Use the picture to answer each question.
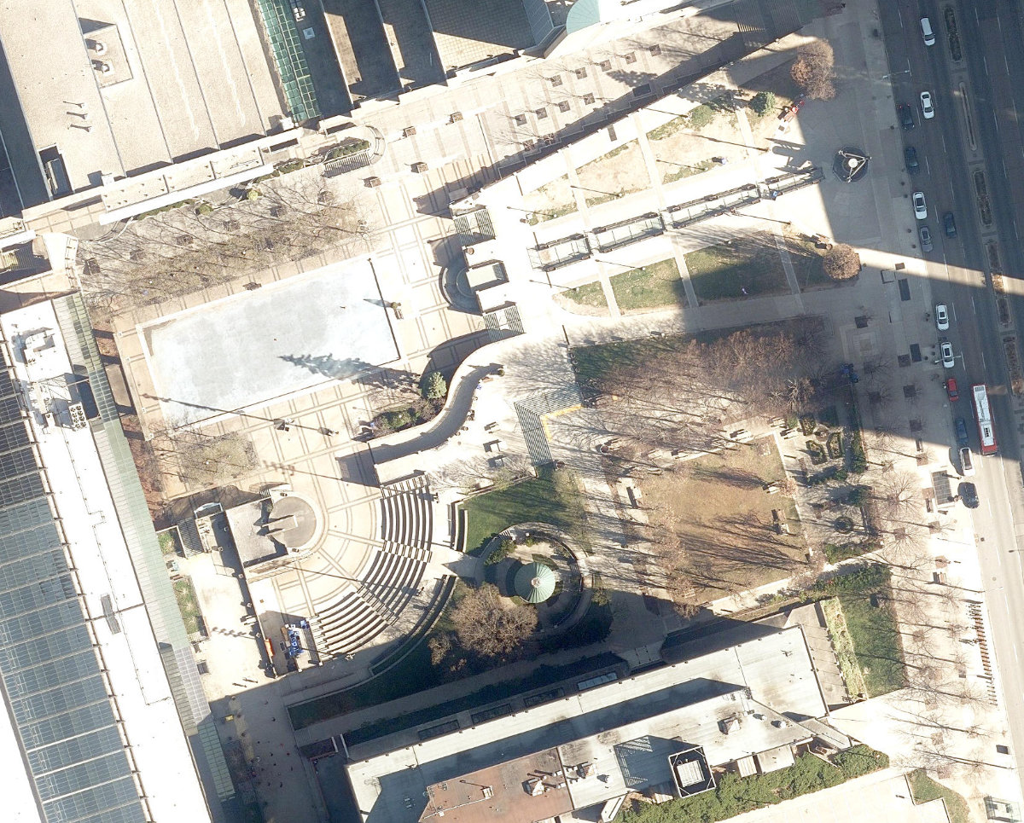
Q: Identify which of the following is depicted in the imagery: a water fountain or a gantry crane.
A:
water fountain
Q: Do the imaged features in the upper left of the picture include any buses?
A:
No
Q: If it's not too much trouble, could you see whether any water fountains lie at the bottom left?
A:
No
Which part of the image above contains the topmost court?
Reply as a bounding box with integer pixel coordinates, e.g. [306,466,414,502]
[136,259,402,430]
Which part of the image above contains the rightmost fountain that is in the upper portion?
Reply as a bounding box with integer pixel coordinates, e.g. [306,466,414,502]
[833,147,872,182]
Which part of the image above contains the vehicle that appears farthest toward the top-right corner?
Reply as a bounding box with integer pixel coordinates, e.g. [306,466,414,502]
[920,17,936,46]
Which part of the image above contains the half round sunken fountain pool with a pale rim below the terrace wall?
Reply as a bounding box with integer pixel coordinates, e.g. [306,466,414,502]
[439,249,470,312]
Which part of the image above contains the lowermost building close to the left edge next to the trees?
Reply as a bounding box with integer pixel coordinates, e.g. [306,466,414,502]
[0,287,244,823]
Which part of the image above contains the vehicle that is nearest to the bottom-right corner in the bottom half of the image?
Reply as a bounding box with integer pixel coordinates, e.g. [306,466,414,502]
[963,481,978,508]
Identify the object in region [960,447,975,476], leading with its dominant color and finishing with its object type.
white car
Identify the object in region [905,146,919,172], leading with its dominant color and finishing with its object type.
black car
